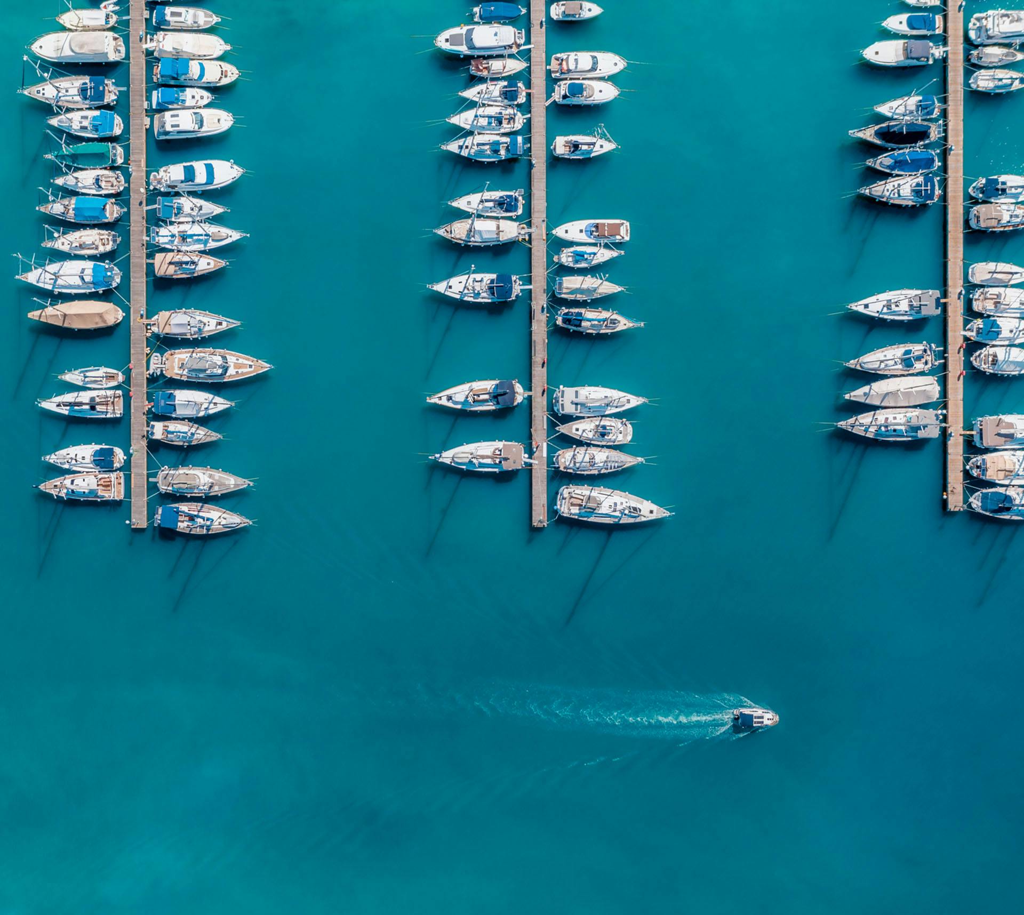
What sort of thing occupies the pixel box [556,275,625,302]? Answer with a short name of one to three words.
boat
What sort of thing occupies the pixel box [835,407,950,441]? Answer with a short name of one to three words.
boat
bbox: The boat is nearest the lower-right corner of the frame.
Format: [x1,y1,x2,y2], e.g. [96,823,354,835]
[732,708,781,728]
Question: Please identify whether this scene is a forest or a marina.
marina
